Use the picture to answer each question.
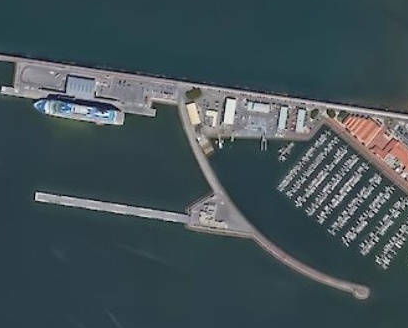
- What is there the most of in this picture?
water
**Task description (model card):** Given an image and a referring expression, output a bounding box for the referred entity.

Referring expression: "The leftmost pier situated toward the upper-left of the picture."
[0,63,181,117]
